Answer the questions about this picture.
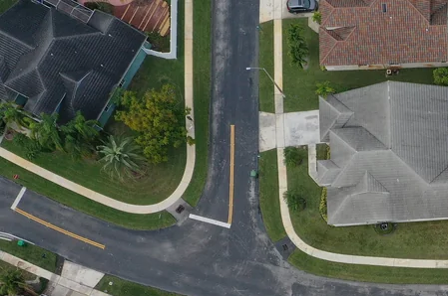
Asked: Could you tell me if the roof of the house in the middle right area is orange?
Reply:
No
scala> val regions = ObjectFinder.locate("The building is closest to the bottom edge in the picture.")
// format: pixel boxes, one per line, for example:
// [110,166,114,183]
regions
[317,80,448,227]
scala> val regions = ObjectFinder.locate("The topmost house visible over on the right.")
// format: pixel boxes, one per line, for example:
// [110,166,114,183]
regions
[319,0,448,71]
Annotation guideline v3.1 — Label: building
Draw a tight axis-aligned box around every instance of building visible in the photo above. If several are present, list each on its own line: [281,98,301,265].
[0,0,150,132]
[319,0,448,71]
[317,80,448,227]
